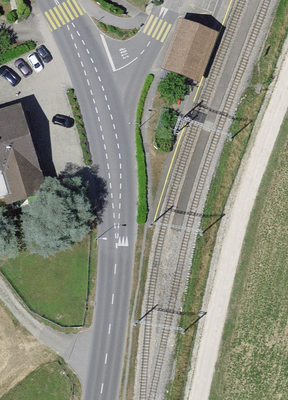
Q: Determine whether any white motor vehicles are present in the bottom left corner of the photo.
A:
No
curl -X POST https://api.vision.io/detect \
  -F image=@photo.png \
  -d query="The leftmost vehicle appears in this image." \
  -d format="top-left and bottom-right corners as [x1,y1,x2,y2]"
[0,64,21,87]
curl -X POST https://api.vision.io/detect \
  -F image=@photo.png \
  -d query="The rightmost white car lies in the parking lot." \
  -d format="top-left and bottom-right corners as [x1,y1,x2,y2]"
[27,51,44,73]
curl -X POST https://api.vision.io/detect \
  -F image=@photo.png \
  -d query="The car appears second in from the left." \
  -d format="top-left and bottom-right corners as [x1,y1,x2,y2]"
[14,57,34,78]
